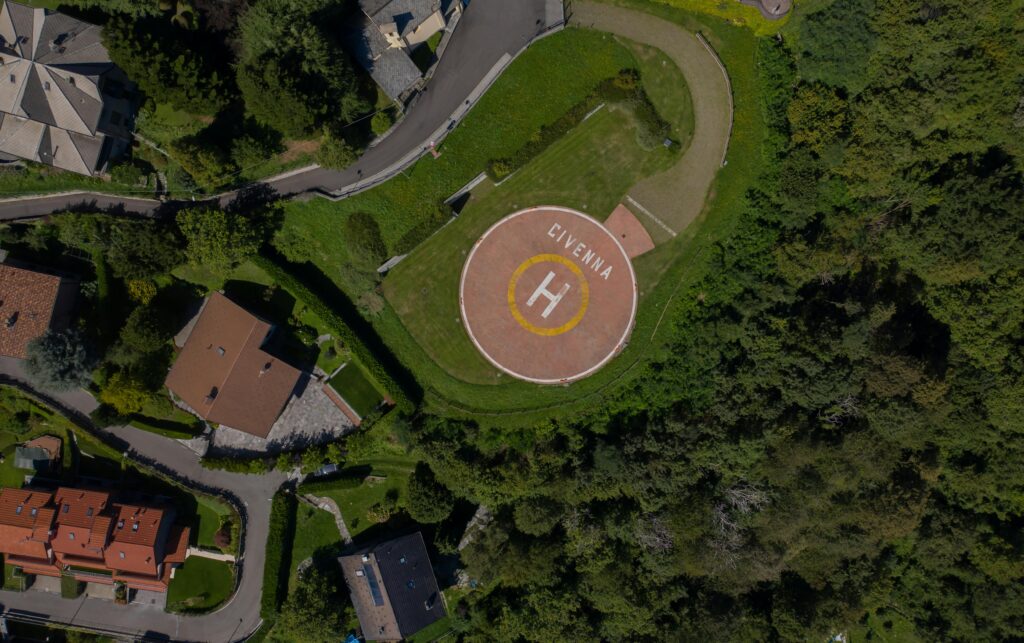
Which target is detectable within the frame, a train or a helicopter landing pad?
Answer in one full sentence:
Visible in the photo is a helicopter landing pad.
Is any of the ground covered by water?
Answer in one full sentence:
No, water can't be seen anywhere here.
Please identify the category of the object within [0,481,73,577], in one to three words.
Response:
house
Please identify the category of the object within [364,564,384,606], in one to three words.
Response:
solar panel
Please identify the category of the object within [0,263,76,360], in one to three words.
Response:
house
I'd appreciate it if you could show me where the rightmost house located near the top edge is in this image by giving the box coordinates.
[358,0,444,120]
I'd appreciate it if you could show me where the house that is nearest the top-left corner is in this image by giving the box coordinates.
[0,2,136,177]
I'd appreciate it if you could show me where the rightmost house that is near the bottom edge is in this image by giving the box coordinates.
[338,527,447,640]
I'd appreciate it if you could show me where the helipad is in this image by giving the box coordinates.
[458,204,654,385]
